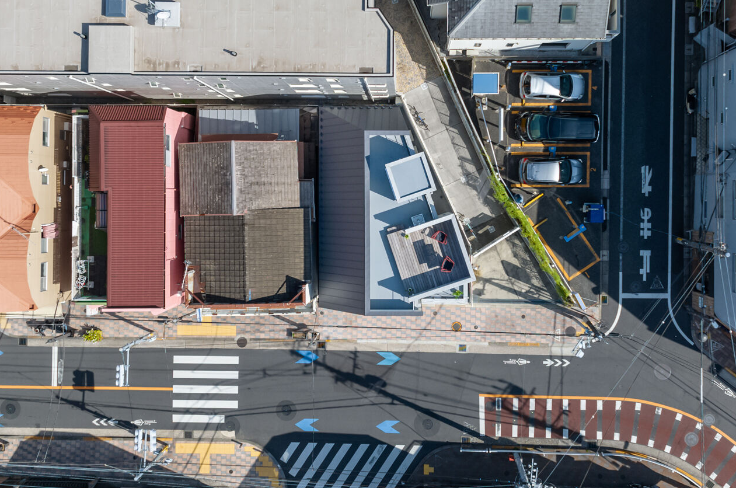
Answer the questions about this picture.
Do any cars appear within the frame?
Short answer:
Yes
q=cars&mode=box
[518,69,583,102]
[514,109,604,146]
[517,155,582,188]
